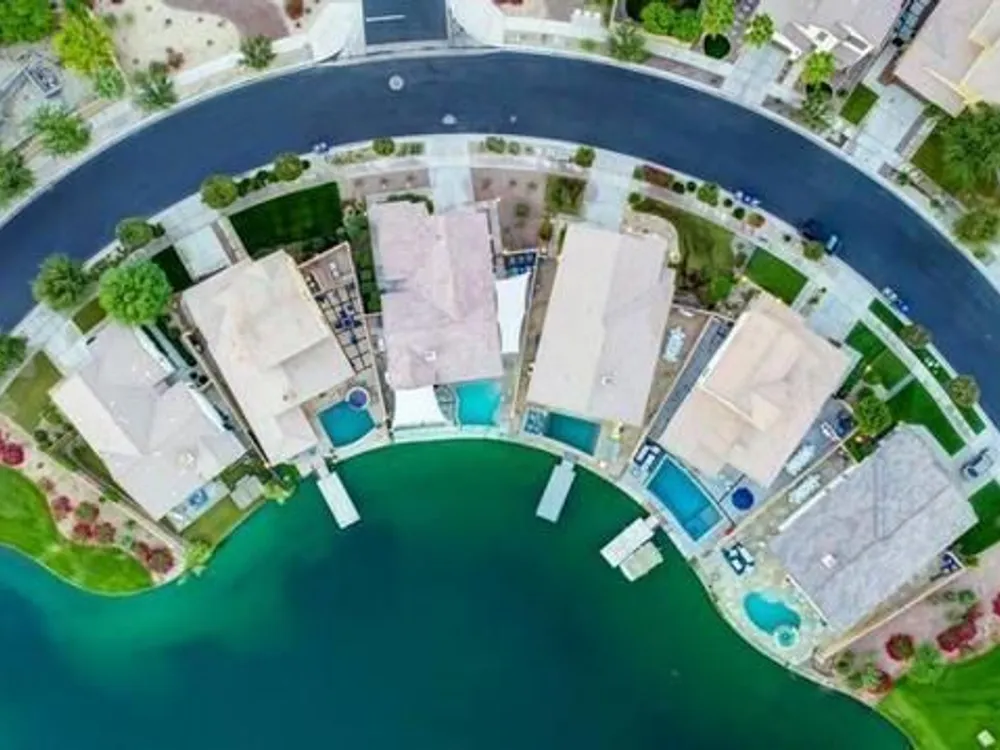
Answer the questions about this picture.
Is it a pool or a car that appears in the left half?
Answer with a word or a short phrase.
pool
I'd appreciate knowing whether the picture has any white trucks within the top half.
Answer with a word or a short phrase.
No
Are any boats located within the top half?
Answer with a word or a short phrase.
No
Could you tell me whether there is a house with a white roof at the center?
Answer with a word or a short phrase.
Yes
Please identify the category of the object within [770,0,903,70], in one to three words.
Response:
house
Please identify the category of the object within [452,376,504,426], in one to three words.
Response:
swimming pool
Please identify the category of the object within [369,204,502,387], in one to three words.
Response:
house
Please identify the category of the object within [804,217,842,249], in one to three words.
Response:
truck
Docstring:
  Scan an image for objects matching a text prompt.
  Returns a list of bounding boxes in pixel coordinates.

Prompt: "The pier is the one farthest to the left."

[315,467,359,527]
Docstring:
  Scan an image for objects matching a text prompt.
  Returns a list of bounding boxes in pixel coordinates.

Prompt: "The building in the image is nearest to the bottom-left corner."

[51,322,246,521]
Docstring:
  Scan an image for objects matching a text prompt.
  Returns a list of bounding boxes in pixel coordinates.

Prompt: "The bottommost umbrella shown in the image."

[730,487,753,510]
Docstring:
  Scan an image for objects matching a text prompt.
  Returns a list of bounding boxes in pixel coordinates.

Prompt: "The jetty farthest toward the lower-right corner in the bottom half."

[602,514,656,565]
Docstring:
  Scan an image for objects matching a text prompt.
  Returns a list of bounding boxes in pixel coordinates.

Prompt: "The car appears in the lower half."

[957,448,997,481]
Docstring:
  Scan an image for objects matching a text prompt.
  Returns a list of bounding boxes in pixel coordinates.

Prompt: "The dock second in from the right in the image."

[536,458,578,522]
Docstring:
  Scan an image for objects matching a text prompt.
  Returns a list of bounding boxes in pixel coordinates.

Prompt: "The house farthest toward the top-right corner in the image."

[893,0,1000,118]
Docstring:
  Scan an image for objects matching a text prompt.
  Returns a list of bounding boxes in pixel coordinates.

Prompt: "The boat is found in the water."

[619,541,662,582]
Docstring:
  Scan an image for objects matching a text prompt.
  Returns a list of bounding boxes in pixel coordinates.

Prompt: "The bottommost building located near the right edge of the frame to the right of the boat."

[763,422,982,633]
